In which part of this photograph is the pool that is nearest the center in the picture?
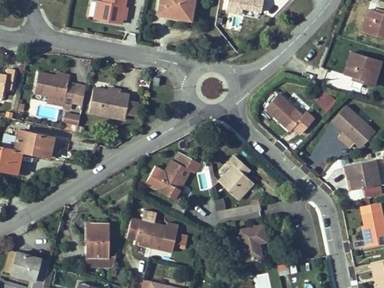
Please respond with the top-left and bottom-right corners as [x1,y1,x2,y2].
[197,164,211,190]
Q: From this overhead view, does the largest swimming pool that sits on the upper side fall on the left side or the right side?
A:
left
